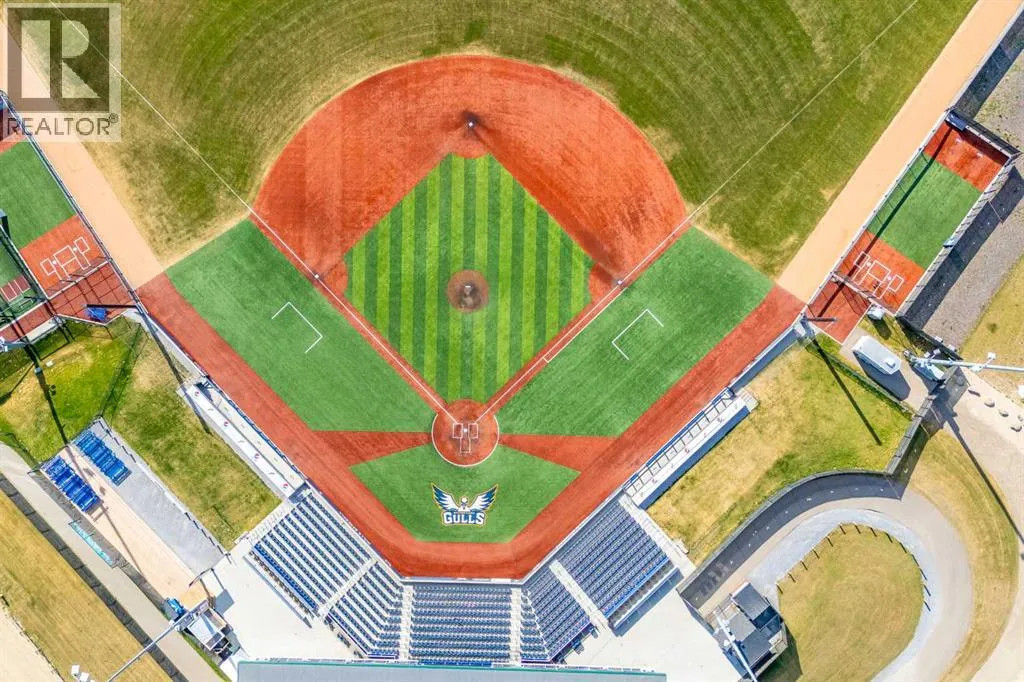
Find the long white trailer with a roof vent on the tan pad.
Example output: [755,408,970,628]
[841,330,901,374]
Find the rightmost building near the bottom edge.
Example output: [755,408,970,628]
[725,577,793,682]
